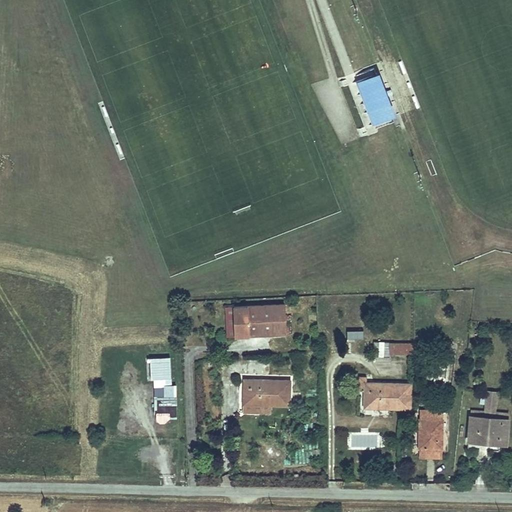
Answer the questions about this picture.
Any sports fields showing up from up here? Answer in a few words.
Yes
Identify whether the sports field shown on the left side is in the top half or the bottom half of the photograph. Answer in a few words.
top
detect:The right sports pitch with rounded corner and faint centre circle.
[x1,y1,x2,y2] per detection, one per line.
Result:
[378,0,512,230]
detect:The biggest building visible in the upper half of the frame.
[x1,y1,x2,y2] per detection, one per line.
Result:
[355,64,398,128]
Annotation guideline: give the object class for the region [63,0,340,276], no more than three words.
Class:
sports field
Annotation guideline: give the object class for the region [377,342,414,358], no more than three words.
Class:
building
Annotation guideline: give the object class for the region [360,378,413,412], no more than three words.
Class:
house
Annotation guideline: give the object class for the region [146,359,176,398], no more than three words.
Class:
shed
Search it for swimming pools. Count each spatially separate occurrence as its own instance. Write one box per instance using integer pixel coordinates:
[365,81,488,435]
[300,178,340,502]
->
[348,428,382,450]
